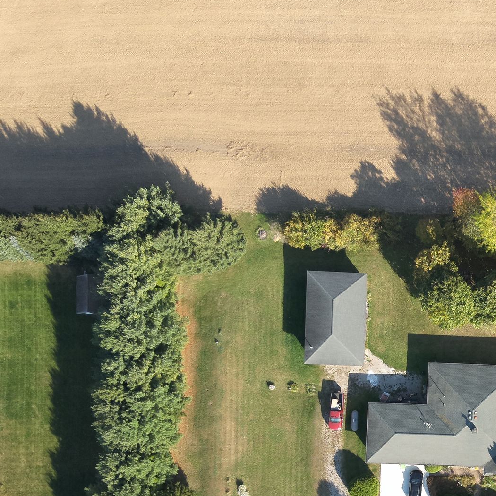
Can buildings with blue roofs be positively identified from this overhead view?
No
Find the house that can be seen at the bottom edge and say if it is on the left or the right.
right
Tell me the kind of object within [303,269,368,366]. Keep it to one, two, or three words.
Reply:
building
